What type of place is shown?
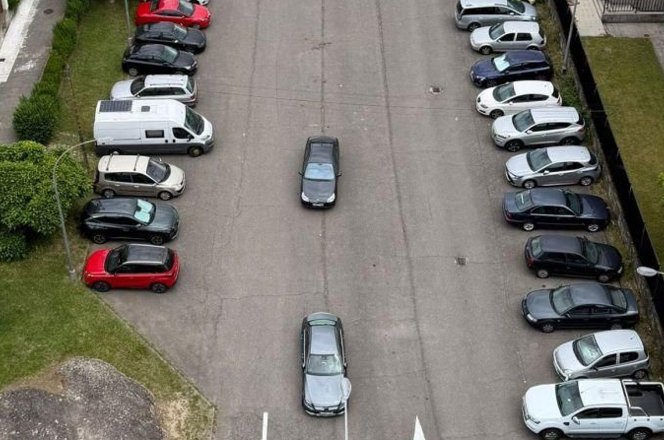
parking lot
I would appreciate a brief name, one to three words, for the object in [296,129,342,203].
car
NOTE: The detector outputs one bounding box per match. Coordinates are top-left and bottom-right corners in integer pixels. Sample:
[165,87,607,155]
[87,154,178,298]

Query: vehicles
[109,67,199,103]
[120,38,199,74]
[133,18,208,49]
[522,232,627,281]
[81,241,181,292]
[90,151,187,200]
[490,107,591,152]
[76,196,180,245]
[500,186,614,232]
[134,0,212,25]
[469,50,558,85]
[502,144,606,188]
[475,79,567,118]
[453,0,540,30]
[469,18,551,53]
[550,328,657,381]
[520,375,664,440]
[296,129,342,203]
[296,308,351,411]
[90,94,215,156]
[518,278,646,331]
